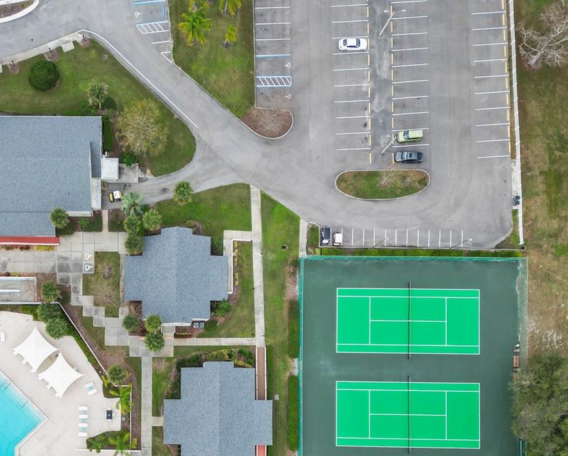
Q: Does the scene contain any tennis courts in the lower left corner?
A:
No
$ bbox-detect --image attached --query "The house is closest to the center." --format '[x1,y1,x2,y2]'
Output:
[125,227,228,322]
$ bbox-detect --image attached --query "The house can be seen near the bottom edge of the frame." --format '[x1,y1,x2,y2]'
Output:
[164,362,273,456]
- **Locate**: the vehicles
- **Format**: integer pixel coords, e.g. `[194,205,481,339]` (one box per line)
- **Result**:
[398,128,424,142]
[333,230,344,246]
[396,149,424,163]
[323,225,333,242]
[339,34,368,49]
[108,189,123,200]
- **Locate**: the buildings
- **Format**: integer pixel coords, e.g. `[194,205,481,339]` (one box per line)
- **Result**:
[164,362,273,456]
[125,227,228,322]
[0,115,118,246]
